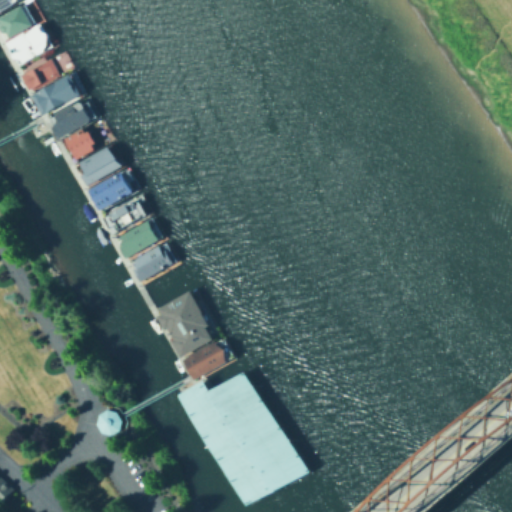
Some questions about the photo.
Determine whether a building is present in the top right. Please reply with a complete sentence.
No, there is no building in the top right.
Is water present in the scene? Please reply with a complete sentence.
Yes, the picture does contain water.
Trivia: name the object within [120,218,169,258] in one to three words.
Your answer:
house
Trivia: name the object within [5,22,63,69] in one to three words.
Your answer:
house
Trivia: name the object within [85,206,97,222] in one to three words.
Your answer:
boat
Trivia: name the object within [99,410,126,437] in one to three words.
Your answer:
building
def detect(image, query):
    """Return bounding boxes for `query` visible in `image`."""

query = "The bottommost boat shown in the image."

[98,228,110,246]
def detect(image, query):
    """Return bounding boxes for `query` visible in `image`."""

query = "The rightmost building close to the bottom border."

[182,372,311,508]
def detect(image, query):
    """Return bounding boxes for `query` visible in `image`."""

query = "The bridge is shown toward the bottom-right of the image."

[350,372,512,512]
